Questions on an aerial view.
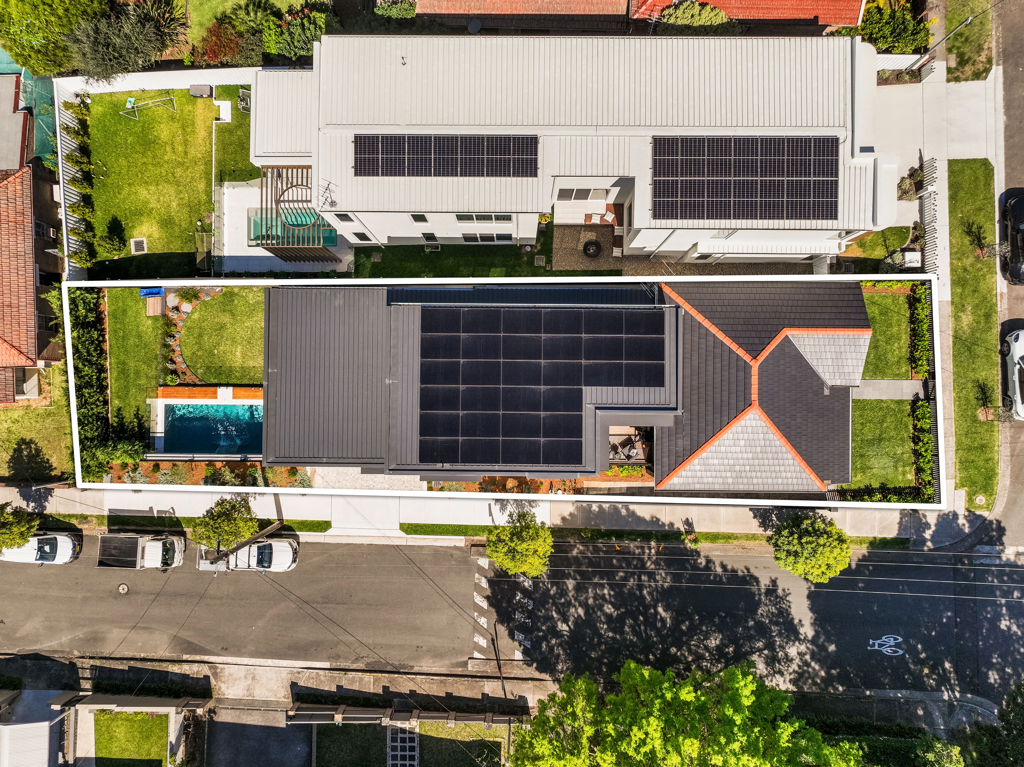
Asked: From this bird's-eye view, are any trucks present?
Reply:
Yes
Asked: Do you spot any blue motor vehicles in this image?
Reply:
No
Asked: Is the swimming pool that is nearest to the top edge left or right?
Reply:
left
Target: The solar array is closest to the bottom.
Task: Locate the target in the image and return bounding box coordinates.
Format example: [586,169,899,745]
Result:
[418,308,668,464]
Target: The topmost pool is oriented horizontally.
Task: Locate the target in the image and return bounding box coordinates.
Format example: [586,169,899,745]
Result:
[249,209,337,247]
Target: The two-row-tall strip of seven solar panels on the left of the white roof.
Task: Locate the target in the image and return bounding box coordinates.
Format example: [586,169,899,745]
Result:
[351,134,541,177]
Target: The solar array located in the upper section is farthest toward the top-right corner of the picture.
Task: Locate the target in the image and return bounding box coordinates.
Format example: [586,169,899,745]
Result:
[649,135,842,220]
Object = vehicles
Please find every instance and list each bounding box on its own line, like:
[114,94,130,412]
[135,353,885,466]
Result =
[1007,332,1024,419]
[198,533,301,576]
[0,529,88,571]
[1000,197,1024,289]
[101,527,188,572]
